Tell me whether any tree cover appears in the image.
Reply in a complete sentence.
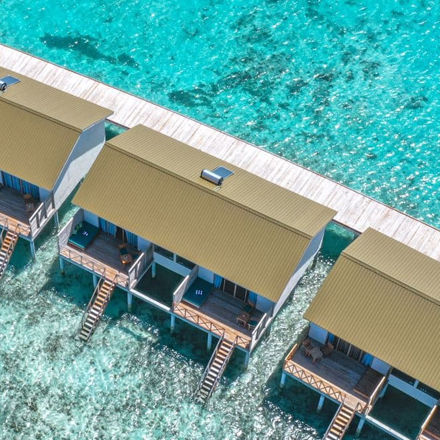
No, the picture contains no tree cover.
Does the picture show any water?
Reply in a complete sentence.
Yes, there's water in this view.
